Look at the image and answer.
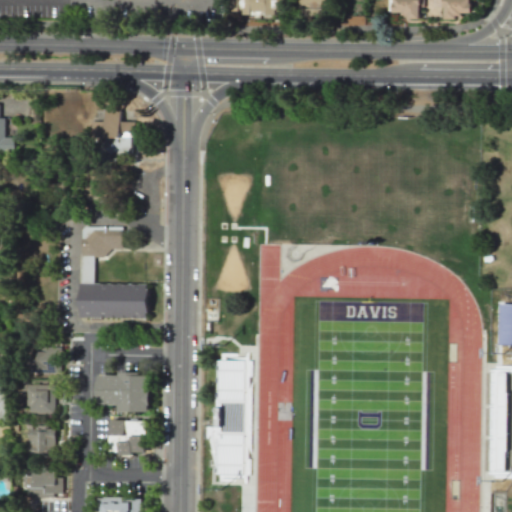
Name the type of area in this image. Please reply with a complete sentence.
It's a sports ground.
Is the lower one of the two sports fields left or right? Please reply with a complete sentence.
The lower one of the two sports fields sits on the right side.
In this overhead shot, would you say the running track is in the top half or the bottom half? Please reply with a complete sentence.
The bottom half of the photo is where the running track is.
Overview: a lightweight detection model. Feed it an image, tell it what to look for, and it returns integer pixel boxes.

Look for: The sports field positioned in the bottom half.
[292,297,450,512]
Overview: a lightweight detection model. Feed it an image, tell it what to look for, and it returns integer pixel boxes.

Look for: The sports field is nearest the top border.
[250,124,481,244]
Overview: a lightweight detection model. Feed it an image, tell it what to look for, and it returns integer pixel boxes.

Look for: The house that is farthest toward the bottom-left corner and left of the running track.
[23,474,64,498]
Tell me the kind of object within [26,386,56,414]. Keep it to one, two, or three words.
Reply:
house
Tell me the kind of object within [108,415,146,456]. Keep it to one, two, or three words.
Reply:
building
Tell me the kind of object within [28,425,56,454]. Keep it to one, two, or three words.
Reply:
house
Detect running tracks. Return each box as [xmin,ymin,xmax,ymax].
[256,244,484,512]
